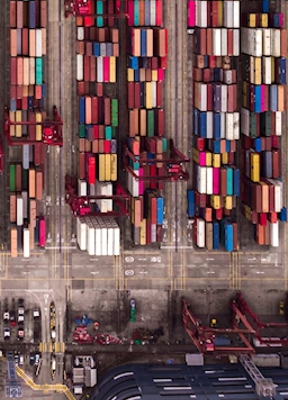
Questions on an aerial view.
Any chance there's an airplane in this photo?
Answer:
No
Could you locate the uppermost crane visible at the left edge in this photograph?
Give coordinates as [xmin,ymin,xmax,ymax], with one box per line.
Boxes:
[4,109,63,145]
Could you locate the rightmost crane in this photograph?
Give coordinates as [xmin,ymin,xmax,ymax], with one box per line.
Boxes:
[237,291,288,343]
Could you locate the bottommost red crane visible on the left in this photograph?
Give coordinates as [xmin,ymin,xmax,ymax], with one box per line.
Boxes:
[67,178,131,218]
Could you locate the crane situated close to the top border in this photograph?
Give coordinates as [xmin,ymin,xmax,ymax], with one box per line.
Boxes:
[67,0,131,20]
